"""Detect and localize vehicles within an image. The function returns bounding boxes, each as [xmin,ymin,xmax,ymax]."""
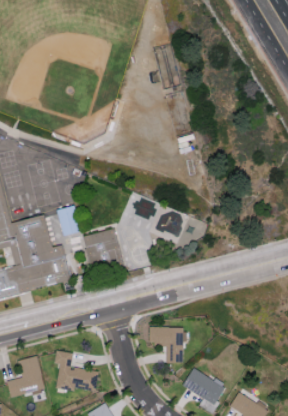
[88,313,98,318]
[74,354,85,358]
[194,286,204,291]
[52,322,62,326]
[184,389,192,398]
[159,293,170,300]
[14,208,25,213]
[2,368,8,378]
[8,364,13,374]
[115,362,122,374]
[130,394,136,402]
[194,396,202,402]
[221,280,230,285]
[227,408,234,416]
